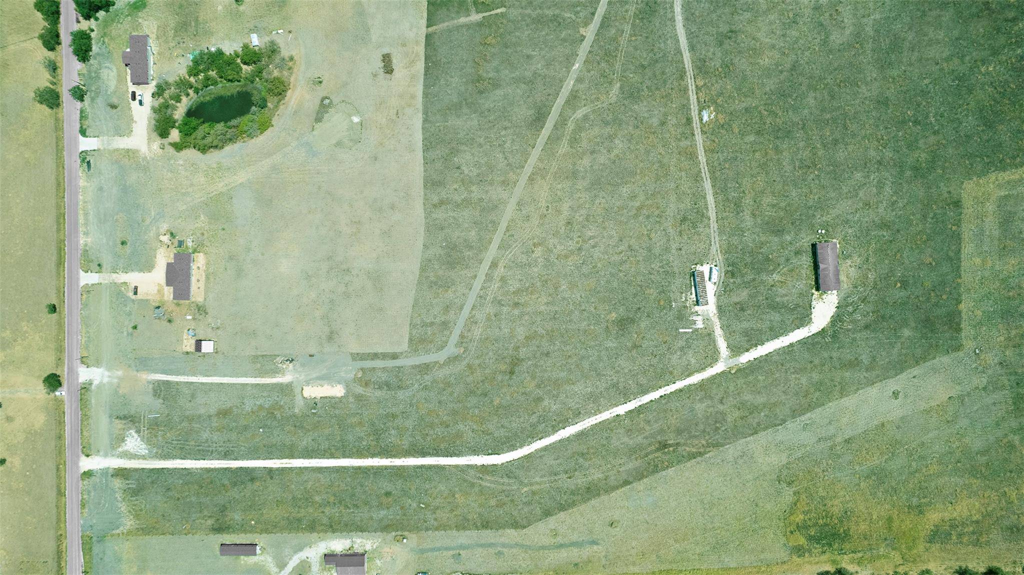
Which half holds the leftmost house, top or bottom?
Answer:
top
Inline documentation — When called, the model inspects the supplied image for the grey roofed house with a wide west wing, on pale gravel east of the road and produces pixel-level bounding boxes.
[165,253,197,300]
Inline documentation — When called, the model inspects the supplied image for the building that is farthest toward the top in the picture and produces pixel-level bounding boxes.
[122,34,154,85]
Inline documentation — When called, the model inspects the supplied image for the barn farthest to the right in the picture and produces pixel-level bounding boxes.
[814,242,840,292]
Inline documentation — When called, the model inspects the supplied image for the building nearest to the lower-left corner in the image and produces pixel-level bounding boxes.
[220,543,260,556]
